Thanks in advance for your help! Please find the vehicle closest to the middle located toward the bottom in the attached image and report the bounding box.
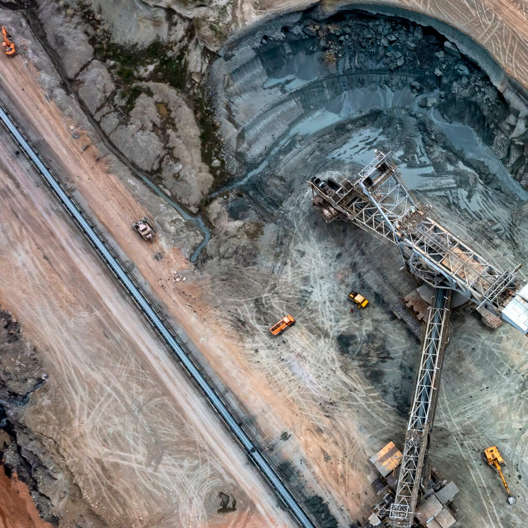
[265,314,297,338]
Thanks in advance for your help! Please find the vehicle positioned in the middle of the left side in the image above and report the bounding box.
[127,216,155,245]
